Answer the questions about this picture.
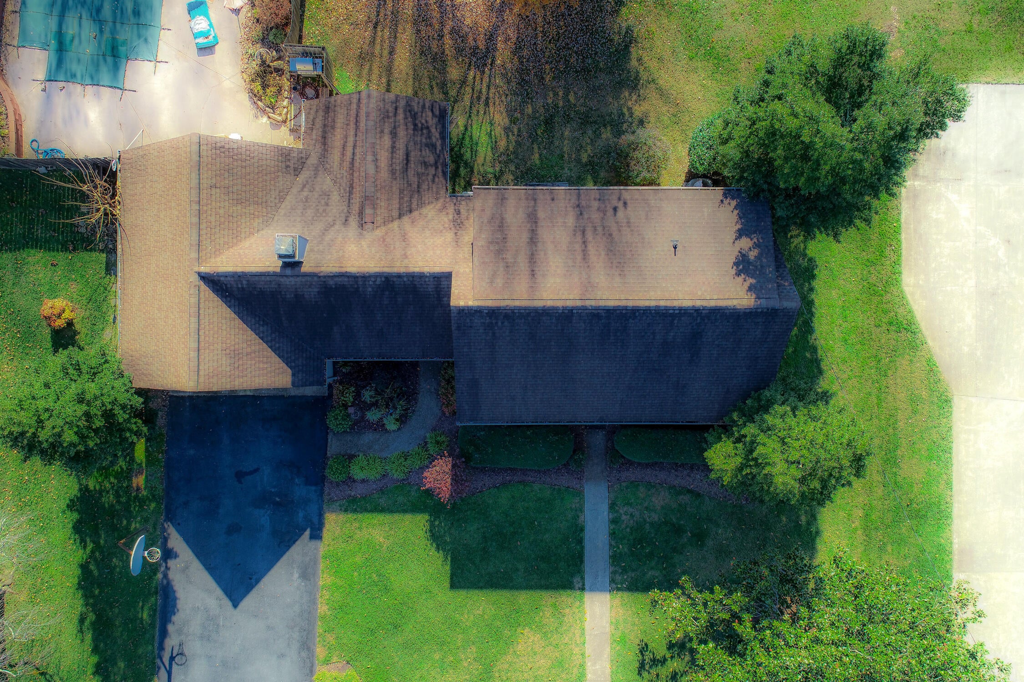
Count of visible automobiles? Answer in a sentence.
The picture shows no automobiles.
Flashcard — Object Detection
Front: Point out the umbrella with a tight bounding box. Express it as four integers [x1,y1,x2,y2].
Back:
[226,0,246,34]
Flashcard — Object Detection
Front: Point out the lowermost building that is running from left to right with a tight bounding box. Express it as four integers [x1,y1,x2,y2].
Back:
[116,88,801,428]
